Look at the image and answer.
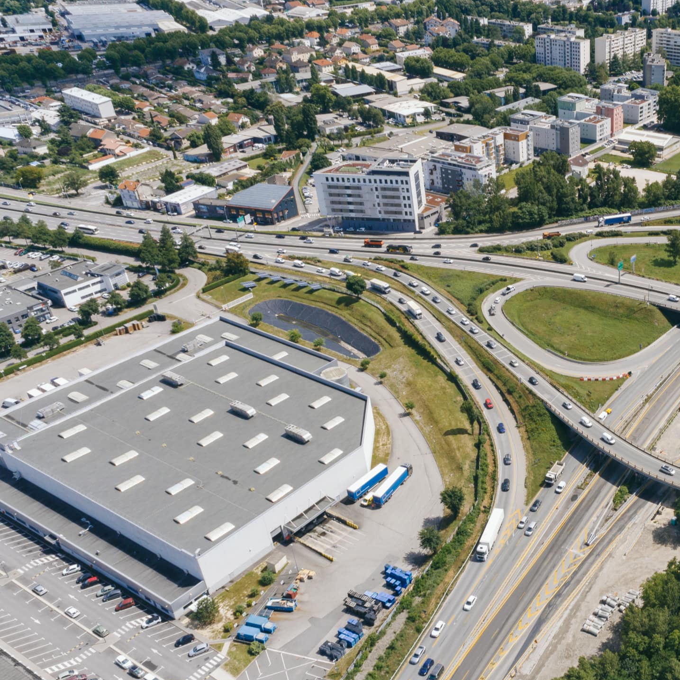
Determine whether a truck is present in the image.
Yes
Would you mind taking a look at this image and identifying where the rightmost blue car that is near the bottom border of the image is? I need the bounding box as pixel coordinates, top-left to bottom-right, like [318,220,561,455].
[419,659,434,675]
